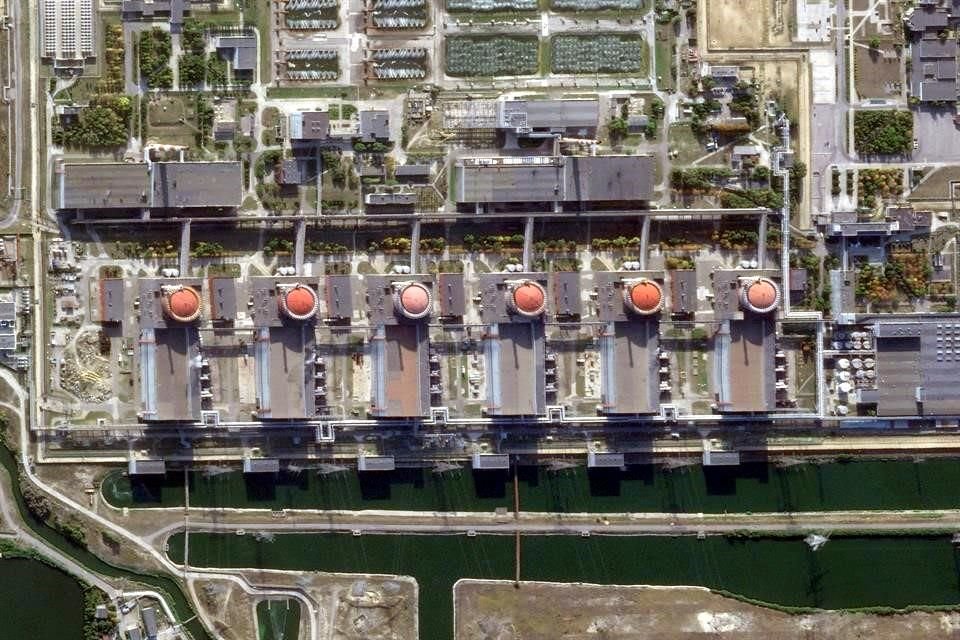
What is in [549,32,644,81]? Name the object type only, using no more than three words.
pond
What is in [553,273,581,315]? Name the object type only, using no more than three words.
building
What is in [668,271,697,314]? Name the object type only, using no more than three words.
building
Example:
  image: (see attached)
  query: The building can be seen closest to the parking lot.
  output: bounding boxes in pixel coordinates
[917,82,957,100]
